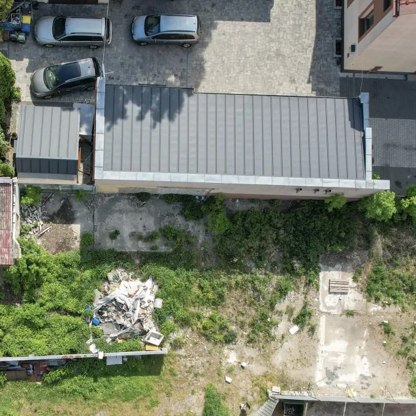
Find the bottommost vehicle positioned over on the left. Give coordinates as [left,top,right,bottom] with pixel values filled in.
[32,54,102,102]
